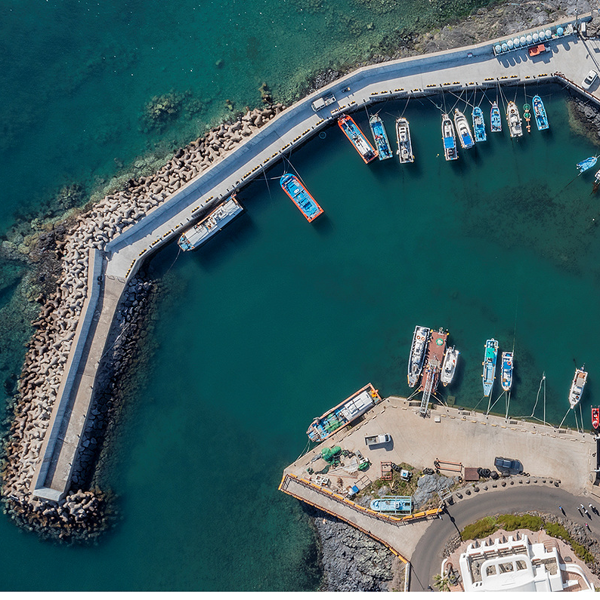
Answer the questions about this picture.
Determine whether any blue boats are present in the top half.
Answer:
Yes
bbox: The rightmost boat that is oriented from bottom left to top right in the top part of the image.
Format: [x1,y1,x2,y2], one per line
[574,155,597,175]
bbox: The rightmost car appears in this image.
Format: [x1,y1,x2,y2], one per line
[581,69,600,91]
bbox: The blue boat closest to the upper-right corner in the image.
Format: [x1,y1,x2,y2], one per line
[532,95,548,131]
